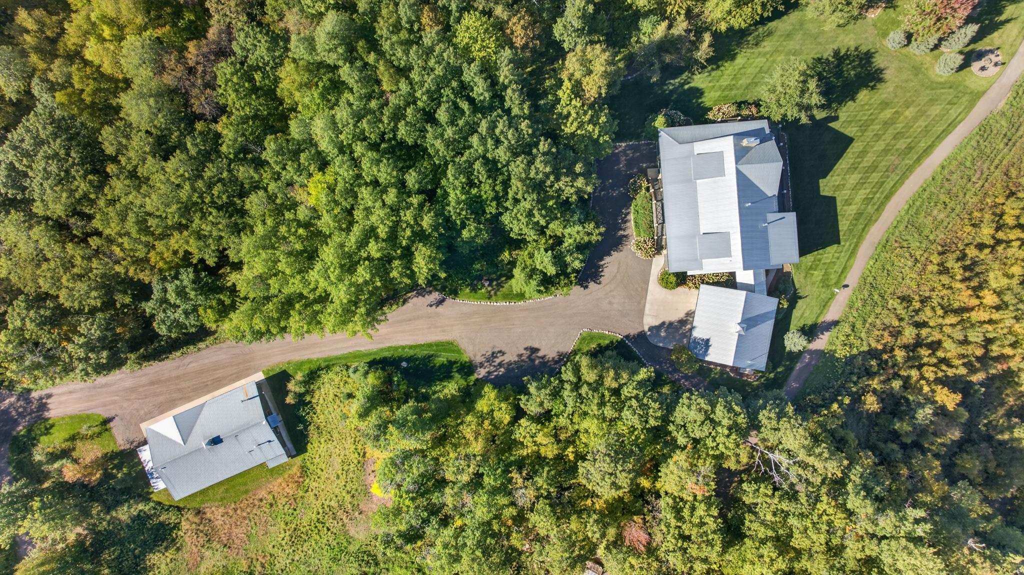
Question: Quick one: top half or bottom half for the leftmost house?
bottom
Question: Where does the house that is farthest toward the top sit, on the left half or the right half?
right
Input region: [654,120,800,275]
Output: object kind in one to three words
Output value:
house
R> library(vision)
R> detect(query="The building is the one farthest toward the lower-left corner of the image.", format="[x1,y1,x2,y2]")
[146,381,289,501]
